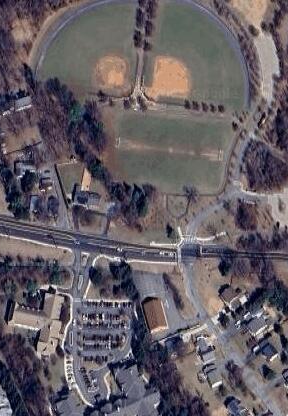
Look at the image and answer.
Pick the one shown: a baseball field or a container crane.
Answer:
baseball field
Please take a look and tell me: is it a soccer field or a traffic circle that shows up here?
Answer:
soccer field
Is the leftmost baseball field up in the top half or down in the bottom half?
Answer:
top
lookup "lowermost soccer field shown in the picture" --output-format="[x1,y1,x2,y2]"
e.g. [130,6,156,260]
[114,112,241,194]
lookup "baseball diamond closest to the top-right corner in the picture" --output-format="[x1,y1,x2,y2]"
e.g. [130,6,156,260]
[146,0,246,107]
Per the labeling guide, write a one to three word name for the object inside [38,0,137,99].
baseball field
